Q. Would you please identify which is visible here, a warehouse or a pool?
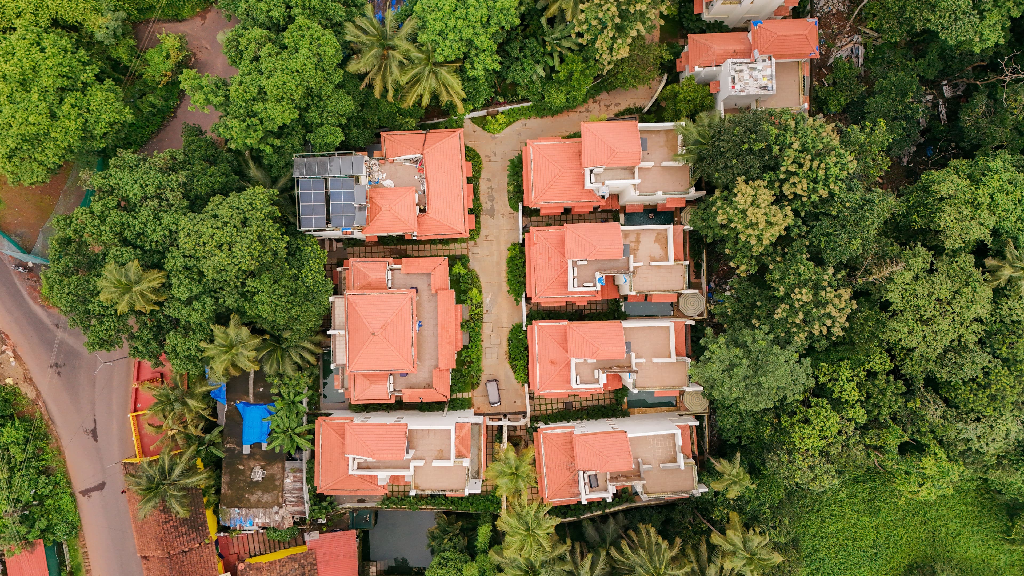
pool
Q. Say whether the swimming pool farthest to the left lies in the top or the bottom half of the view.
bottom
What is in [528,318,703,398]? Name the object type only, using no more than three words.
house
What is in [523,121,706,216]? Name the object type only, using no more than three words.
house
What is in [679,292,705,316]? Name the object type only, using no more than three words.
umbrella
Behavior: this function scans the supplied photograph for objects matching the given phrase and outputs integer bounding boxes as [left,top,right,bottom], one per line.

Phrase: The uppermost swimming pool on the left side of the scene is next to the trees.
[321,348,346,405]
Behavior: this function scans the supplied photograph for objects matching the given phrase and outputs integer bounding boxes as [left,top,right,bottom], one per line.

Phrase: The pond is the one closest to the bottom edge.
[369,510,446,576]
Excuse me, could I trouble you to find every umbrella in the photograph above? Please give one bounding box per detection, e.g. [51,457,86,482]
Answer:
[681,202,705,228]
[683,390,707,412]
[679,292,705,316]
